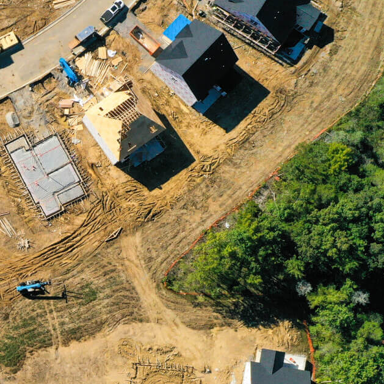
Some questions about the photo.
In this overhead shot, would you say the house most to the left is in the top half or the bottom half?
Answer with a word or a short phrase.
top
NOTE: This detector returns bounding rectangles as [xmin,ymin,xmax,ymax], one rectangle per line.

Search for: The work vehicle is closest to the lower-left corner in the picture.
[19,280,64,296]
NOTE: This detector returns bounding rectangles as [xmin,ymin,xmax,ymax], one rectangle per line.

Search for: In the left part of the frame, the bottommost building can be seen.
[80,72,169,164]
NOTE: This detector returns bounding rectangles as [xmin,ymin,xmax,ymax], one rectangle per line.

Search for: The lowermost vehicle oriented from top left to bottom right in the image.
[60,57,88,95]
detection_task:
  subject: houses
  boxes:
[208,0,327,59]
[147,13,238,114]
[80,72,169,164]
[241,346,311,384]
